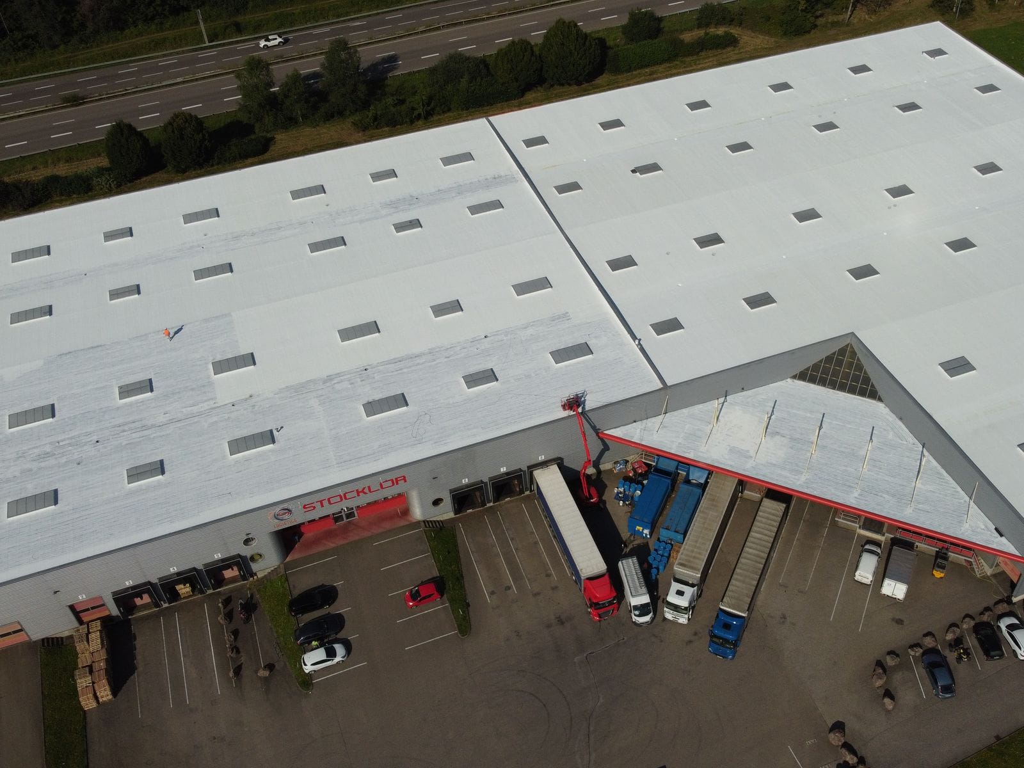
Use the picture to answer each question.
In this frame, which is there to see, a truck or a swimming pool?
truck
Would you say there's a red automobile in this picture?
Yes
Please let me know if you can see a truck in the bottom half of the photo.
Yes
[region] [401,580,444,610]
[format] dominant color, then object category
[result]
red car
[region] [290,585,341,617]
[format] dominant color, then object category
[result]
black car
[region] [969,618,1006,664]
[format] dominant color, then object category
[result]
black car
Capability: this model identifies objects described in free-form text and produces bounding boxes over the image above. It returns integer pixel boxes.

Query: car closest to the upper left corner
[259,33,283,47]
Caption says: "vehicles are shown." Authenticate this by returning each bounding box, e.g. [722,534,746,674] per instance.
[290,585,341,617]
[662,468,736,619]
[298,642,348,675]
[615,555,656,623]
[706,497,787,659]
[969,618,1006,664]
[933,545,953,576]
[296,612,347,644]
[534,464,620,621]
[259,33,283,47]
[998,608,1024,655]
[922,646,961,698]
[401,580,444,610]
[951,639,973,661]
[853,545,884,589]
[883,543,922,604]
